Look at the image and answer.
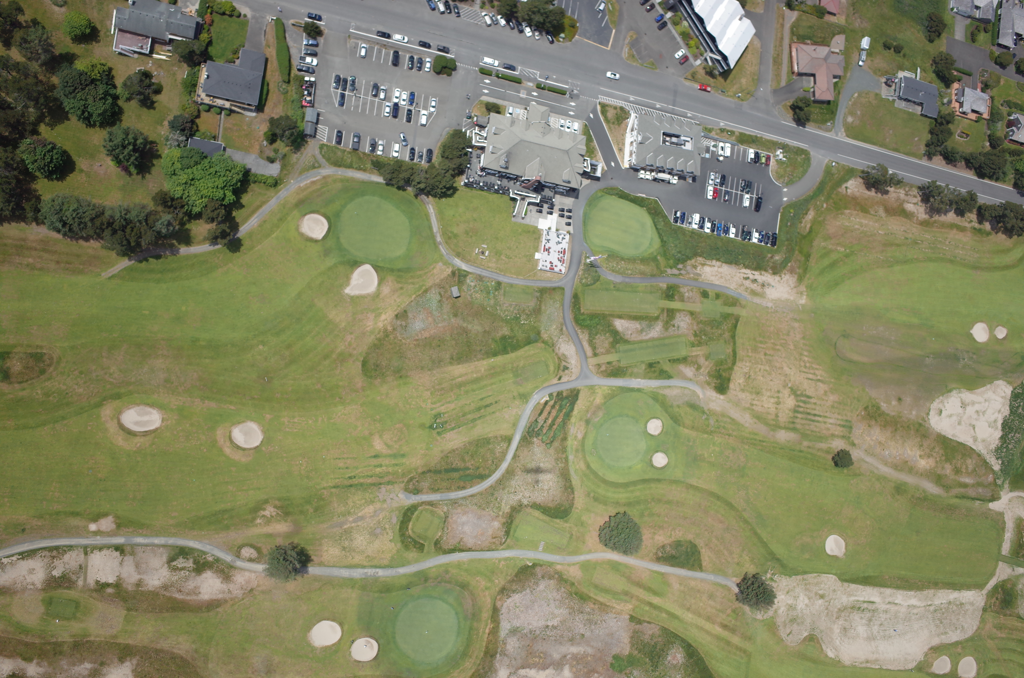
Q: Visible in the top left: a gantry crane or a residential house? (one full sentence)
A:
There is a residential house in the top left.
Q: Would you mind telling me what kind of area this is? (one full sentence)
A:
This looks like a golf course.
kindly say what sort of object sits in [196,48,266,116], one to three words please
house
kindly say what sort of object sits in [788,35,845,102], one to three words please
house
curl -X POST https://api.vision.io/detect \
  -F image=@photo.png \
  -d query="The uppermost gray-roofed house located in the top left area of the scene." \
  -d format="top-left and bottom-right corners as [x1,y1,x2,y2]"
[114,0,202,57]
